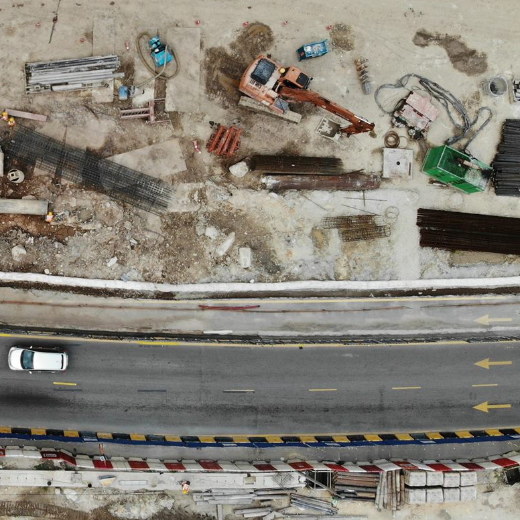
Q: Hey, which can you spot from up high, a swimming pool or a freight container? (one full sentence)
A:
I can see a freight container in this picture.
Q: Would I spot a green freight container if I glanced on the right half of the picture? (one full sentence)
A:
Yes, on the right half of the picture there is a green freight container.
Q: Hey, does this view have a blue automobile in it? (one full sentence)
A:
No, I can see no blue automobile in this picture.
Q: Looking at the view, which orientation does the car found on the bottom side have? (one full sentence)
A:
What the image shows is the car found on the bottom side lying from side to side.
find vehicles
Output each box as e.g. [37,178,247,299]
[233,53,377,140]
[7,344,69,375]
